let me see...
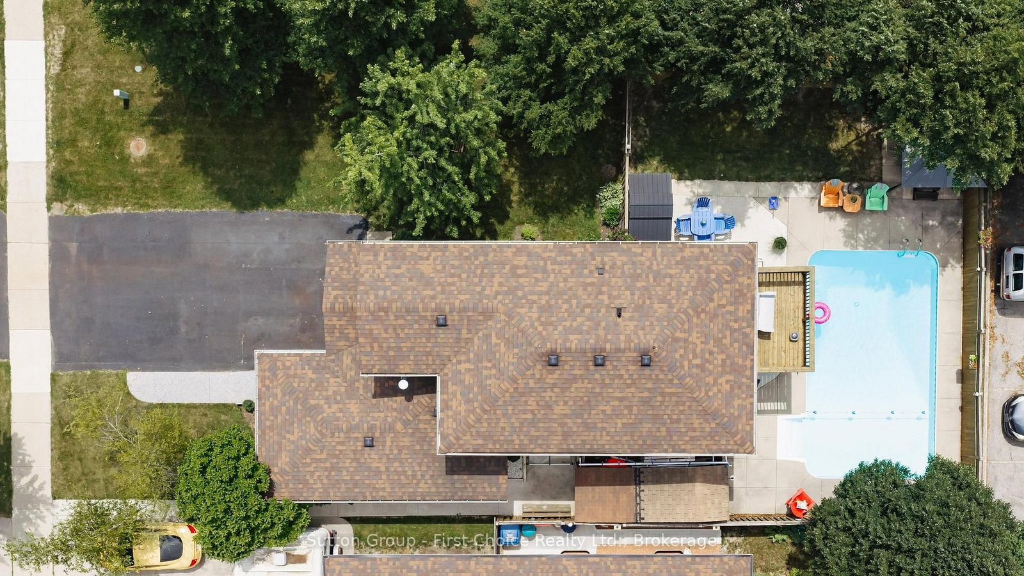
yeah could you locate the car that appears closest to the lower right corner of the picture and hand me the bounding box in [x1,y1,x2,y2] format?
[999,394,1024,443]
